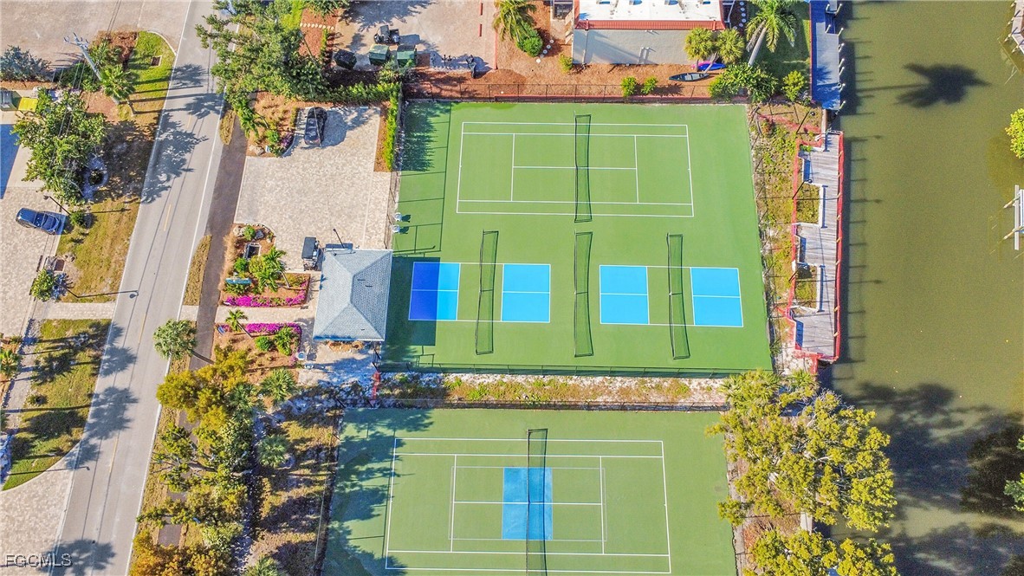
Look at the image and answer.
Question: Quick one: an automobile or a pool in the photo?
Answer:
automobile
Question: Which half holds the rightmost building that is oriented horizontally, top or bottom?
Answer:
top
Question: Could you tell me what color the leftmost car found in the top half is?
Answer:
blue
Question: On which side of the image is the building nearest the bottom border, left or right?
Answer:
left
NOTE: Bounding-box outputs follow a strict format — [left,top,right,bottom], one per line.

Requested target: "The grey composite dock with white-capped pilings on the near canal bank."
[809,0,846,118]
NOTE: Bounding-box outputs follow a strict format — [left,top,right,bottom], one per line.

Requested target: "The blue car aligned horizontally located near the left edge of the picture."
[11,210,61,235]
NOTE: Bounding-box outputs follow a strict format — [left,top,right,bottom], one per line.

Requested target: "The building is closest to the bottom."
[314,250,394,346]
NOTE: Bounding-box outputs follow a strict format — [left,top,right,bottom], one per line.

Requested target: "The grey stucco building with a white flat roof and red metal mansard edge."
[565,0,727,65]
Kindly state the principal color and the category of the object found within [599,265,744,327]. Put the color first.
blue sports court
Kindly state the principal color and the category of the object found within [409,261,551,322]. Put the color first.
blue sports court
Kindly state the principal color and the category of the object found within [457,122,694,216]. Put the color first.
green tennis court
